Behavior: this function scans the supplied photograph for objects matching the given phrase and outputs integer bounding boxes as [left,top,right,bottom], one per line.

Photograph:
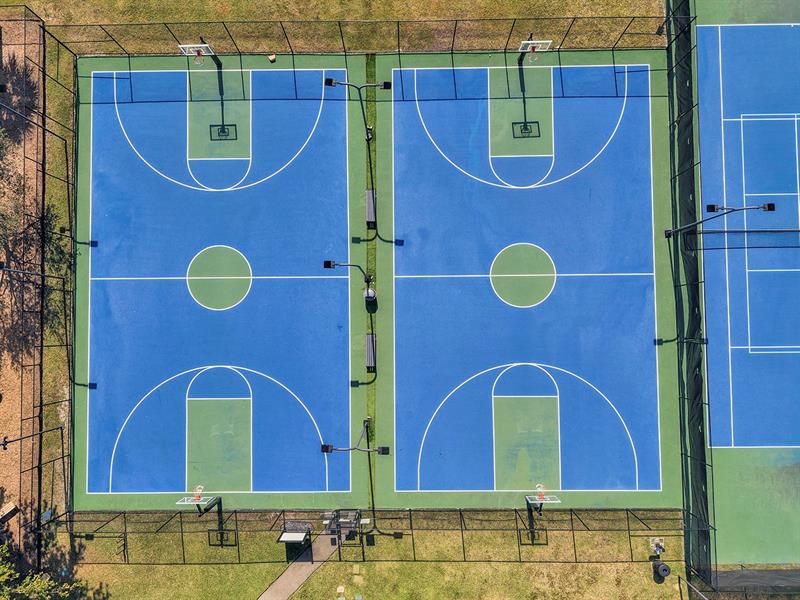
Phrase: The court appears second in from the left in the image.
[375,49,682,508]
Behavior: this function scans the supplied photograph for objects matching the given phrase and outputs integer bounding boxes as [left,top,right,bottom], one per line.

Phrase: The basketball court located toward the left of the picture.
[70,52,369,509]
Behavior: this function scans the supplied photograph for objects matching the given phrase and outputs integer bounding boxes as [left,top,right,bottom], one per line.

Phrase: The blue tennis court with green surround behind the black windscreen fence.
[666,0,800,564]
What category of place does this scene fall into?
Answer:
sports ground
